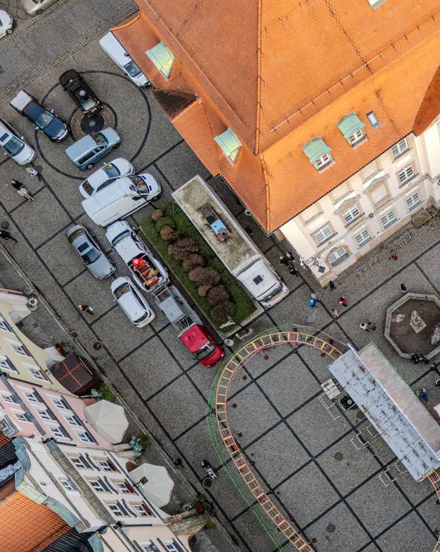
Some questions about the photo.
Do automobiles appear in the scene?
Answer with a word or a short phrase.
Yes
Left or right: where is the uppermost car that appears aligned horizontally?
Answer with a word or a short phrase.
left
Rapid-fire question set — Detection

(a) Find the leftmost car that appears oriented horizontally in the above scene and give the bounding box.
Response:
[23,0,74,21]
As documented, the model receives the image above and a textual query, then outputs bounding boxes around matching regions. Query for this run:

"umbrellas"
[87,401,129,441]
[134,466,175,506]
